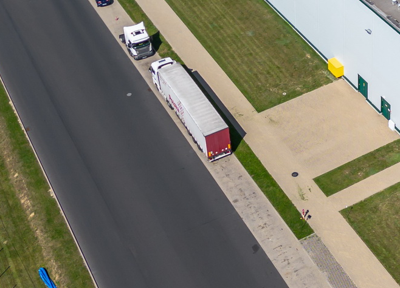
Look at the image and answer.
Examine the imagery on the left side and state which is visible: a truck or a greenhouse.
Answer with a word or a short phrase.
truck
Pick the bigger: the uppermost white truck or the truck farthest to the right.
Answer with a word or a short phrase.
the truck farthest to the right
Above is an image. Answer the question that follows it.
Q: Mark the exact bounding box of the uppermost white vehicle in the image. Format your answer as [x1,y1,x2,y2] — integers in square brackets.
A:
[119,15,154,57]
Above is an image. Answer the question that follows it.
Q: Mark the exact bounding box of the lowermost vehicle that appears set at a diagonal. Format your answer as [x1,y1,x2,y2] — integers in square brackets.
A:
[145,47,233,158]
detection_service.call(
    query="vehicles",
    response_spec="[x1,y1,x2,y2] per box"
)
[119,15,154,57]
[94,0,112,9]
[145,47,233,158]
